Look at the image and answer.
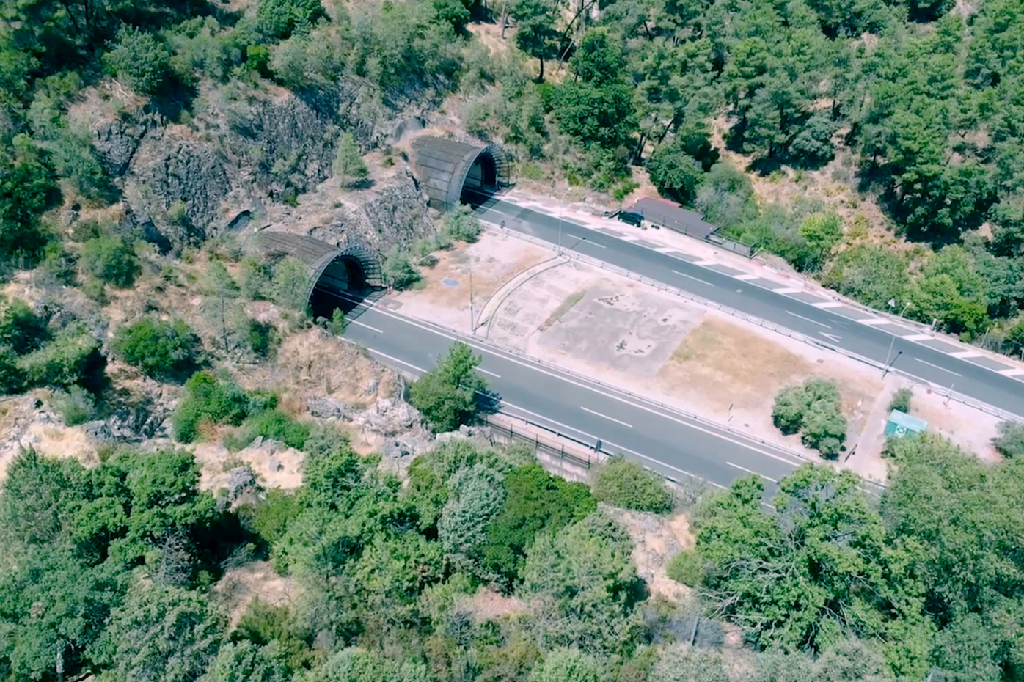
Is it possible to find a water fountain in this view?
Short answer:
No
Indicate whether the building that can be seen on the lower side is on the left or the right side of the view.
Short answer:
right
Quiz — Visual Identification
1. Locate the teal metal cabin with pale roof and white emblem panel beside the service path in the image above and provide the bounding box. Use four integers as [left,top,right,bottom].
[886,408,934,448]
